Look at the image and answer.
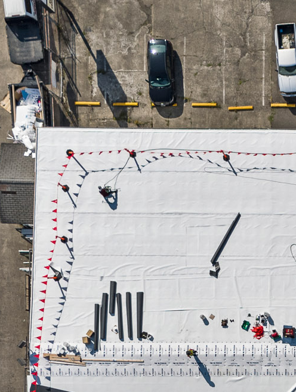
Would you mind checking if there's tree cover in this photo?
No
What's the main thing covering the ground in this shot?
buildings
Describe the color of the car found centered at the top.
black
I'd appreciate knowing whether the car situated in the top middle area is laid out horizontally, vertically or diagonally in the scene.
vertically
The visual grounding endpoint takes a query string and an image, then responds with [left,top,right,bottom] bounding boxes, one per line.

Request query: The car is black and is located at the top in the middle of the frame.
[145,38,178,108]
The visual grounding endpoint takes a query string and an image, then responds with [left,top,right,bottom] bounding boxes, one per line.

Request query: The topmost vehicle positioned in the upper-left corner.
[6,0,48,83]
